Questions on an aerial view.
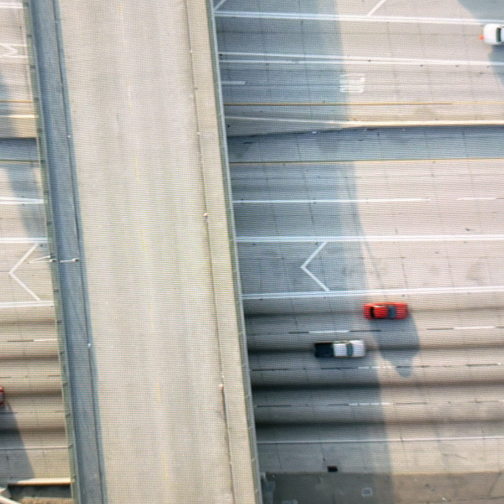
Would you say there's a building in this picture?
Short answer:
No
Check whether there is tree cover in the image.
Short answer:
No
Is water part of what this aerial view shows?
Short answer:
No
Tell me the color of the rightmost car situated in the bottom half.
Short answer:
red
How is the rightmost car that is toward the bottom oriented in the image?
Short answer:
horizontally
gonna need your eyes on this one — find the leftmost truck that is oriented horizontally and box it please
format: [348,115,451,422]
[313,339,366,361]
